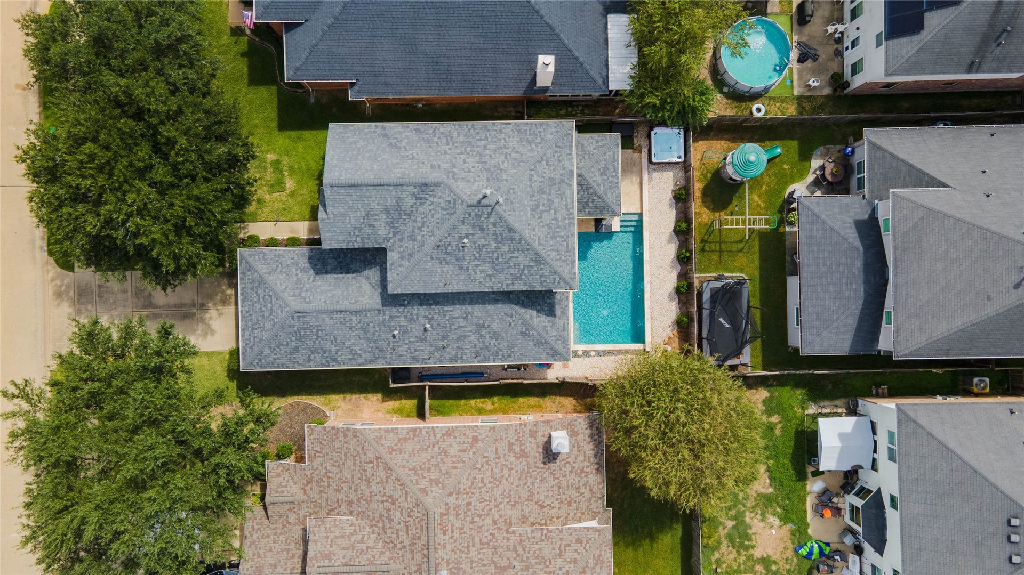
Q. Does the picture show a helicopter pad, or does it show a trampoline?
trampoline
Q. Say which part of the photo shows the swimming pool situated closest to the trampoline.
center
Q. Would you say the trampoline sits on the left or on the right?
right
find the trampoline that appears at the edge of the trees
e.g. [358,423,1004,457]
[699,279,765,367]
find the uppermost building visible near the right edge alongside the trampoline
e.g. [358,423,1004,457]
[788,123,1024,361]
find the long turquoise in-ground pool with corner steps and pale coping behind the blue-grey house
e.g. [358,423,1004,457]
[570,152,651,351]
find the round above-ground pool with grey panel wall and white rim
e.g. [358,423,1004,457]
[712,15,792,94]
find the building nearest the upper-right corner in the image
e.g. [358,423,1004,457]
[844,0,1024,93]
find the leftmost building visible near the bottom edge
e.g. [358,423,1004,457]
[232,413,615,575]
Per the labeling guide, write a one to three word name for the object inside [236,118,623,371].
house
